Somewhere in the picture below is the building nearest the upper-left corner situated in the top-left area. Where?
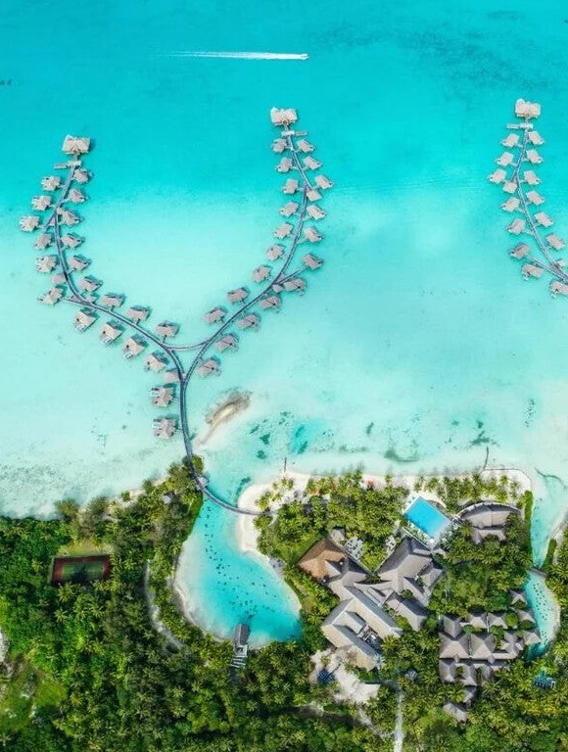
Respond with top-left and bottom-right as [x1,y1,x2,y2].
[62,133,91,155]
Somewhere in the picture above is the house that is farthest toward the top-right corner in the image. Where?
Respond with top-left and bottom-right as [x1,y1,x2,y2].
[513,97,541,120]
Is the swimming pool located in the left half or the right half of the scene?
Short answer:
right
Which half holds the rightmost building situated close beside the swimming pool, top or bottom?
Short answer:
bottom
